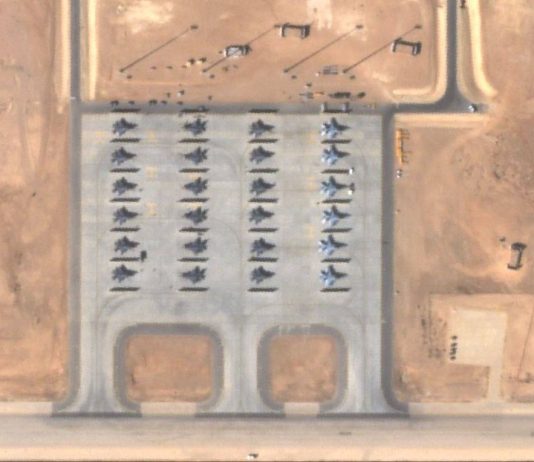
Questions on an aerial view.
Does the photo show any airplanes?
Yes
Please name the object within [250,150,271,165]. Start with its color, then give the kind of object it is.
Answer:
gray airplane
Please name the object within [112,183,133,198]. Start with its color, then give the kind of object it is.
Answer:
gray airplane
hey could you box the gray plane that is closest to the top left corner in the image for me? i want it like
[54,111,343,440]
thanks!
[112,121,132,137]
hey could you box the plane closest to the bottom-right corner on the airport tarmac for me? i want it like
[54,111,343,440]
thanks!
[318,270,341,287]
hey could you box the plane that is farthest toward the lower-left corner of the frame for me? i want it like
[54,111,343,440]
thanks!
[113,270,134,285]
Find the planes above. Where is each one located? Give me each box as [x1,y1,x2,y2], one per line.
[111,152,132,167]
[321,211,345,227]
[112,121,132,137]
[319,182,342,199]
[180,123,201,138]
[318,270,341,287]
[180,183,201,198]
[112,183,133,198]
[114,241,135,257]
[318,241,342,257]
[321,149,344,166]
[250,124,270,139]
[180,212,201,226]
[179,271,200,286]
[113,270,134,285]
[181,242,201,257]
[251,242,271,257]
[114,212,135,226]
[180,151,201,166]
[250,150,271,165]
[250,211,270,225]
[250,271,271,286]
[321,124,344,140]
[250,182,271,197]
